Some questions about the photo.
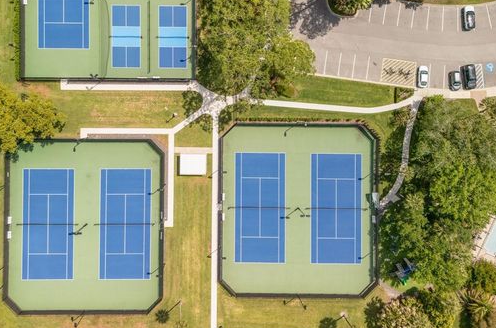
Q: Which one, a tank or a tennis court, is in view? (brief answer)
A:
tennis court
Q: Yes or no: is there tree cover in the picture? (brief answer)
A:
Yes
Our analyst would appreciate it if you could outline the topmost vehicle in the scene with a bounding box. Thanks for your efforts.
[464,6,477,29]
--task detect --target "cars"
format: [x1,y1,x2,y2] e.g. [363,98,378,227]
[464,65,479,89]
[450,71,462,91]
[464,6,477,29]
[417,65,429,87]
